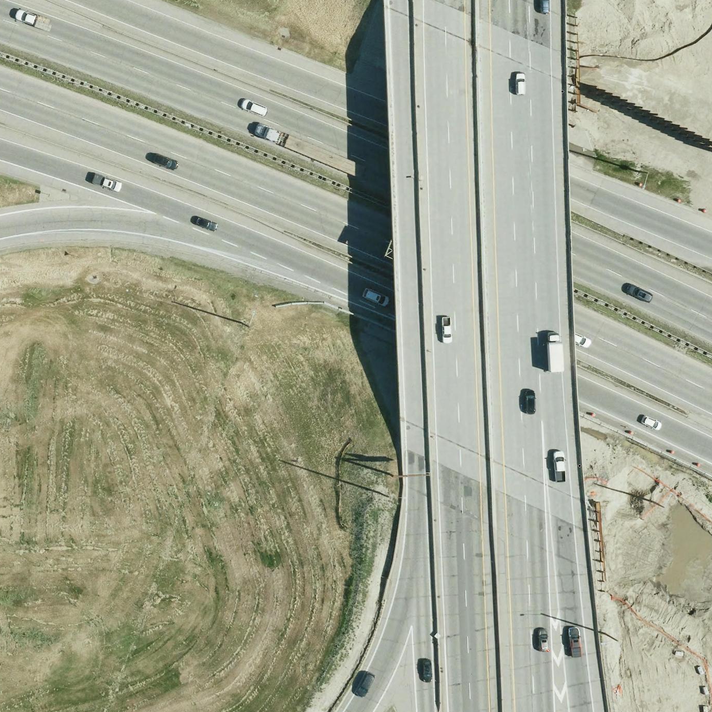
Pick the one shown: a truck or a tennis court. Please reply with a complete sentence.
Of the two, only a truck appears.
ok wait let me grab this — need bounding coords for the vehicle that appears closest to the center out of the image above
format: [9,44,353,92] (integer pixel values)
[362,288,389,306]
